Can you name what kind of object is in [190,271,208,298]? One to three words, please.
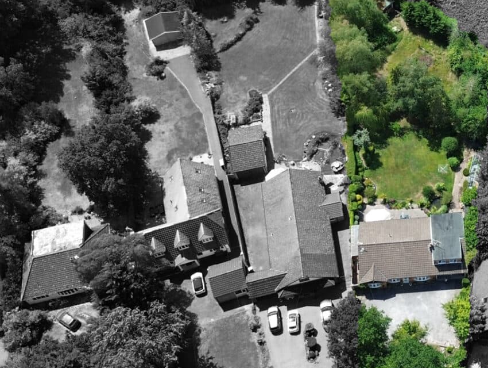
car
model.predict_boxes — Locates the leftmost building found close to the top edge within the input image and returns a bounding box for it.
[142,11,185,47]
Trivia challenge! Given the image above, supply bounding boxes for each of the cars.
[319,299,338,332]
[285,306,303,339]
[190,271,208,298]
[54,308,83,335]
[264,304,284,338]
